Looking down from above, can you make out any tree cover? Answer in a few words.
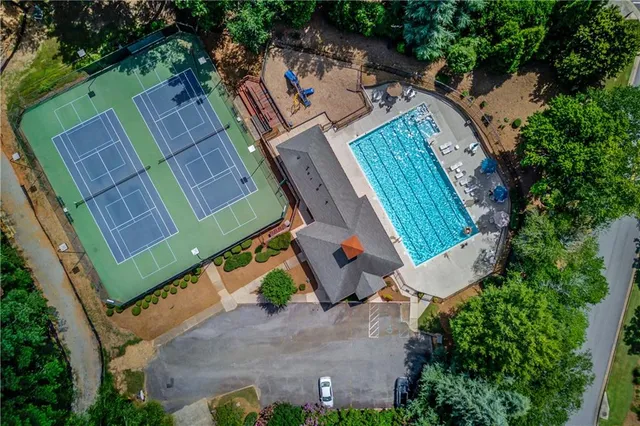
Yes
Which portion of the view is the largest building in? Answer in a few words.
center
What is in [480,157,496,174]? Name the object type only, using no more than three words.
umbrella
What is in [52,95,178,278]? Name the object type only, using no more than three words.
tennis court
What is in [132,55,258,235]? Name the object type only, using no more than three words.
tennis court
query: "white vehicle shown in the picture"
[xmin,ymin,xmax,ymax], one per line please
[319,376,334,409]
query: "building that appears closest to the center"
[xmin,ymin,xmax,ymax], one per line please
[276,125,404,304]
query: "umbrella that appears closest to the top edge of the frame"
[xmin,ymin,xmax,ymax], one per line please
[387,82,402,97]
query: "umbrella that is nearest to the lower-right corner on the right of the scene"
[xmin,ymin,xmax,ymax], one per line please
[493,211,509,227]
